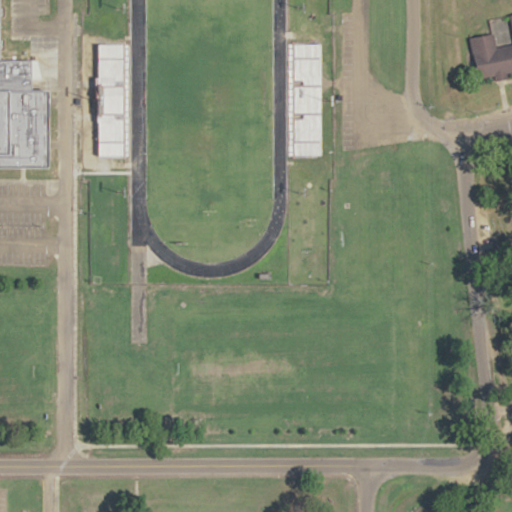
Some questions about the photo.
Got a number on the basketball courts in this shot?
0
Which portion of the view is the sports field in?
top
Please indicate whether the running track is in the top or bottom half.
top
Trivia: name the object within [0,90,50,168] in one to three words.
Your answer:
building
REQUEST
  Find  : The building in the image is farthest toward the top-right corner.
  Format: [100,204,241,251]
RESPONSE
[469,15,512,79]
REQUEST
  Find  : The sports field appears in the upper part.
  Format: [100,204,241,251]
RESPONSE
[147,0,274,262]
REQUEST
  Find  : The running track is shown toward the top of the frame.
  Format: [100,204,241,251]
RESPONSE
[132,0,286,278]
